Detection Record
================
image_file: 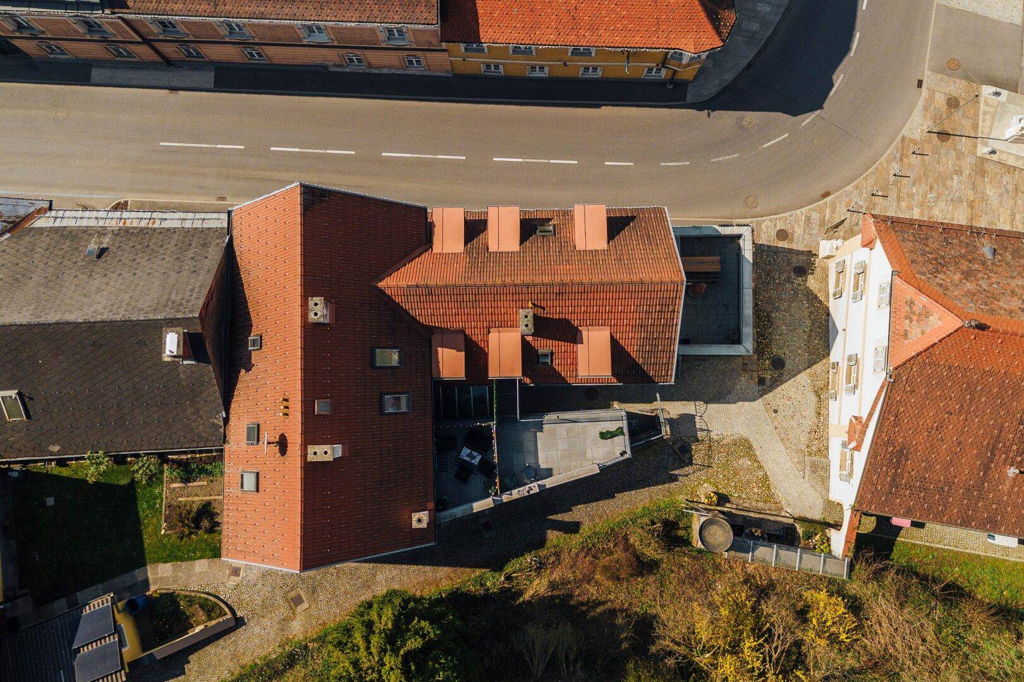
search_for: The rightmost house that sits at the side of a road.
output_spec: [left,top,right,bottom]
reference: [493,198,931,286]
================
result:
[821,215,1024,542]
